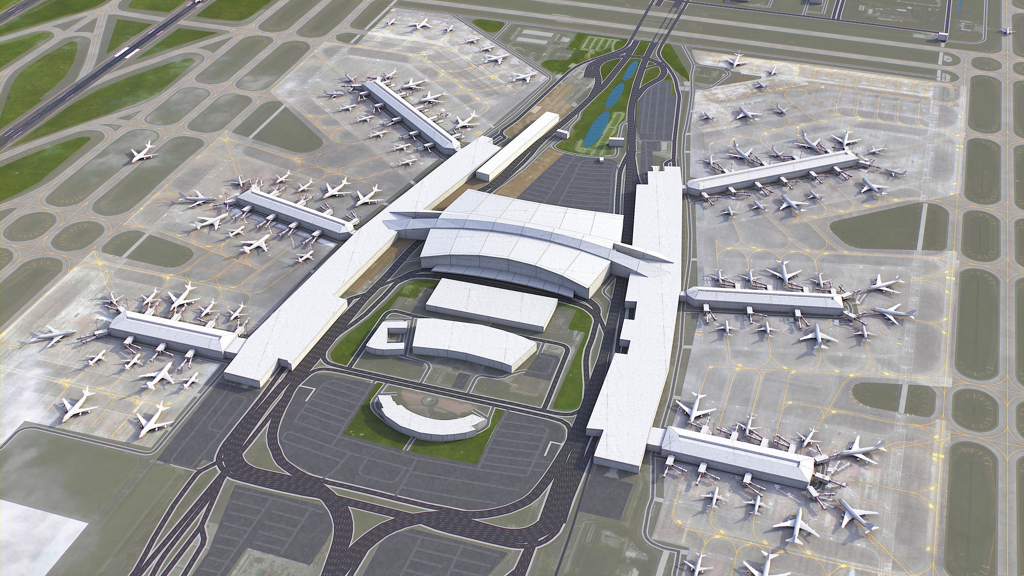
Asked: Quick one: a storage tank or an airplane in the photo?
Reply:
airplane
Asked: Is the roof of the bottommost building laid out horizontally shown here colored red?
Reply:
No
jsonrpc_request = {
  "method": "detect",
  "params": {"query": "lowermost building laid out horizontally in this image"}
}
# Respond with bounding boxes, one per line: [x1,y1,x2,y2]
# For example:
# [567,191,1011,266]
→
[378,395,486,441]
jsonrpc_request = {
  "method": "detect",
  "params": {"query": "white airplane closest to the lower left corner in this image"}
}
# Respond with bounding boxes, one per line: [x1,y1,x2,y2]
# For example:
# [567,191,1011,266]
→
[62,388,99,422]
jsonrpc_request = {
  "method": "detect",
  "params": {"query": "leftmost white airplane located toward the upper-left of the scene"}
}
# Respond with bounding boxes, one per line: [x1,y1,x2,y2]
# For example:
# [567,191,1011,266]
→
[131,141,158,163]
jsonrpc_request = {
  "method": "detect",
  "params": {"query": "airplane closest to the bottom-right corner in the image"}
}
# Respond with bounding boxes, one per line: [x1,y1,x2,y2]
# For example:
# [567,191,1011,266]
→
[839,498,879,531]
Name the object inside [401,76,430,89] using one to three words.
airplane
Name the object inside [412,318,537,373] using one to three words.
building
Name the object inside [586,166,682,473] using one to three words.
building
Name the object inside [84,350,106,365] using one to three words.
airplane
